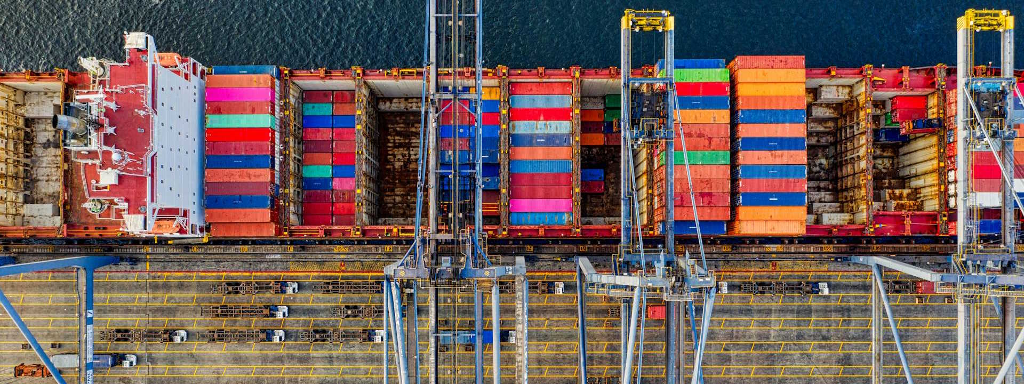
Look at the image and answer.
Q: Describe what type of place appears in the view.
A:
port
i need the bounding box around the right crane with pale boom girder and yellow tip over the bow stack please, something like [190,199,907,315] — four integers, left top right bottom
[815,6,1024,384]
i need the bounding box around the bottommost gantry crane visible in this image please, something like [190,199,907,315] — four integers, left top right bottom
[0,256,156,384]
